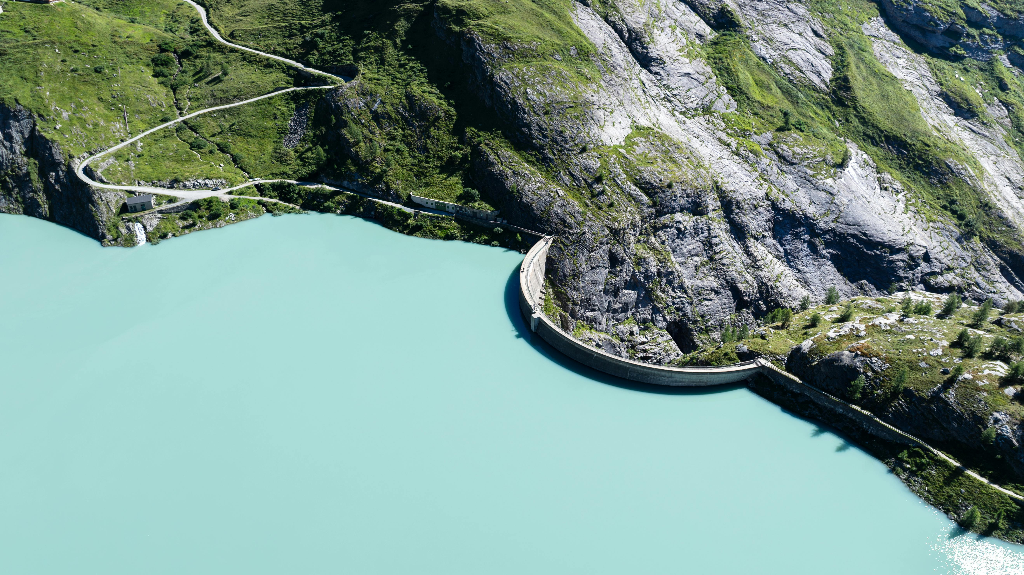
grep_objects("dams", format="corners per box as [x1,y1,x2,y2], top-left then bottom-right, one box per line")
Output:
[515,233,772,391]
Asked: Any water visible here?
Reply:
Yes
